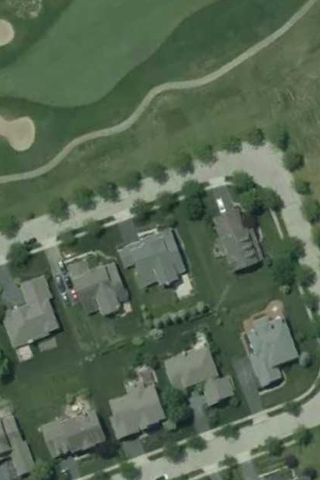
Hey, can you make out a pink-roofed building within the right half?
No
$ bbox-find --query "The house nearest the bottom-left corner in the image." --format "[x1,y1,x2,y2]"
[0,413,34,474]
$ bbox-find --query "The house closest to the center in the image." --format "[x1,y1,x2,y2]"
[115,228,193,299]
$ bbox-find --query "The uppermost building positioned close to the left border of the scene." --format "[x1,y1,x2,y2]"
[0,278,62,361]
